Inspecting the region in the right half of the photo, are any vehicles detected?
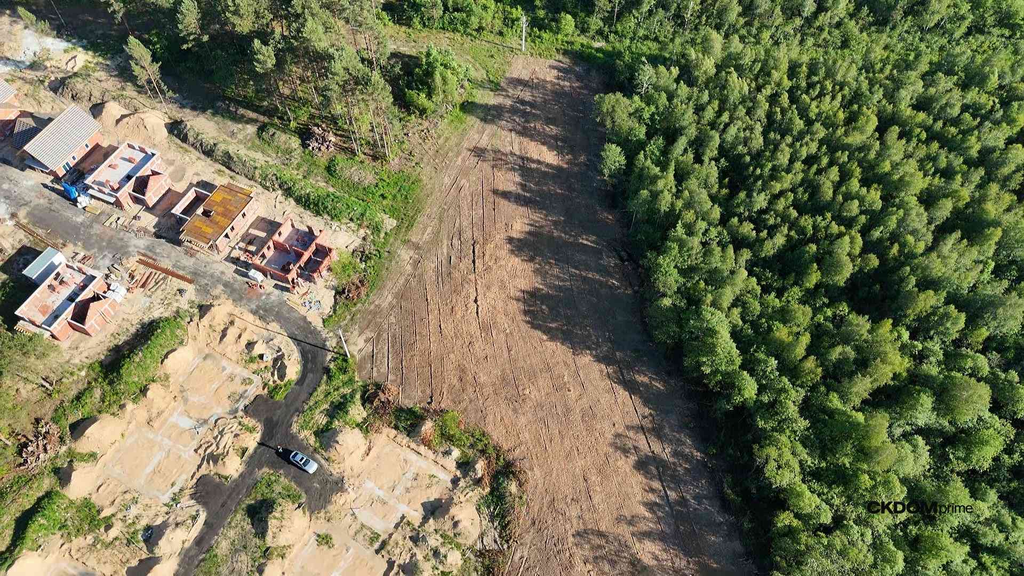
No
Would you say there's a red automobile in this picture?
No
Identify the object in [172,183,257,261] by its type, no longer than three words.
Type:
house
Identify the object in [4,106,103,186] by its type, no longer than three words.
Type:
house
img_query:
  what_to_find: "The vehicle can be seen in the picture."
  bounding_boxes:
[290,449,318,475]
